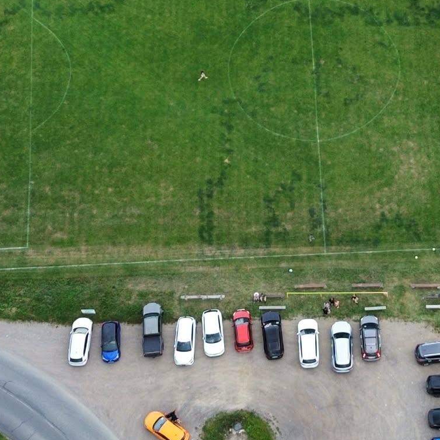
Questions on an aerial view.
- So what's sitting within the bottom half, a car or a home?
car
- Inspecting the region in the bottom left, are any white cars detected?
Yes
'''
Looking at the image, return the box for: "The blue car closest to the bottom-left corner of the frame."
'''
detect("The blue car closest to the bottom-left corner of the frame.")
[100,322,123,365]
